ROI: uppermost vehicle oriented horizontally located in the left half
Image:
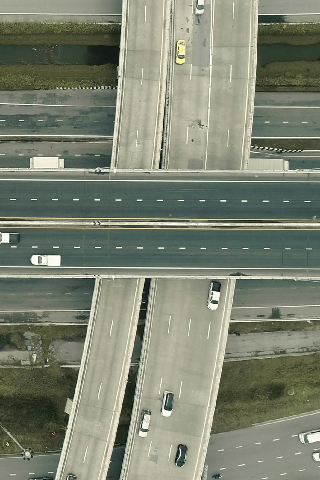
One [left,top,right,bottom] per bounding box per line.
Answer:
[29,156,64,168]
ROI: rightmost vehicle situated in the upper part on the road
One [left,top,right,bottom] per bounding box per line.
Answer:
[248,157,289,172]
